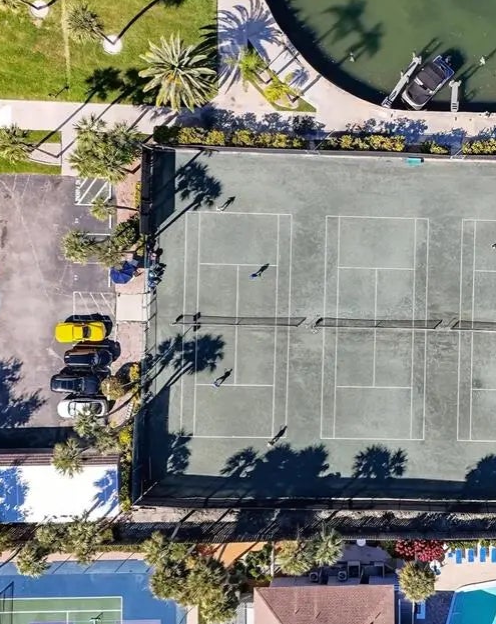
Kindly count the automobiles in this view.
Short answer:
four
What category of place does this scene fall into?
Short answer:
sports ground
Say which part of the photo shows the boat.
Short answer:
top right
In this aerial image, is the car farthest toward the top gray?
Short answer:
No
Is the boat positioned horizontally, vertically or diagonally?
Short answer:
diagonally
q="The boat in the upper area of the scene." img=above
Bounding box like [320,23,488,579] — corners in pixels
[411,52,456,108]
